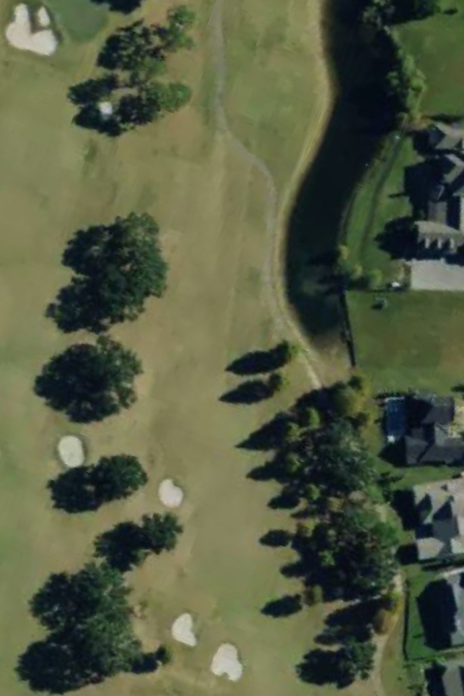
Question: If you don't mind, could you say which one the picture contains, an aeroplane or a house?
house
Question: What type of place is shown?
golf course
